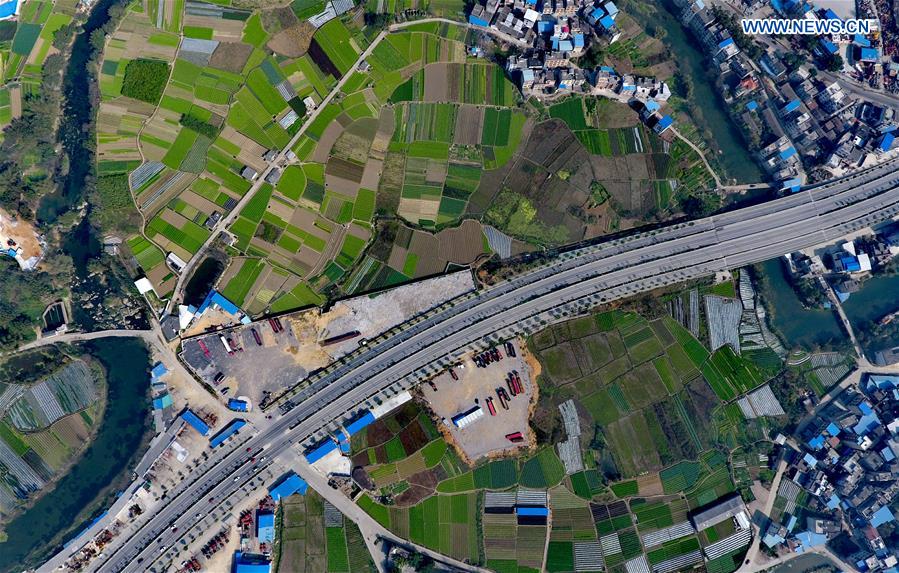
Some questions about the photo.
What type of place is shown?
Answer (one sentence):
This image shows a residential area.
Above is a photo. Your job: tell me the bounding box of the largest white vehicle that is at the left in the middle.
[219,334,234,355]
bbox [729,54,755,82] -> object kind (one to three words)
house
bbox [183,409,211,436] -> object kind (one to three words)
shed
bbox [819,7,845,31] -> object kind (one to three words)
house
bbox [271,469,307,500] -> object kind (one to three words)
shed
